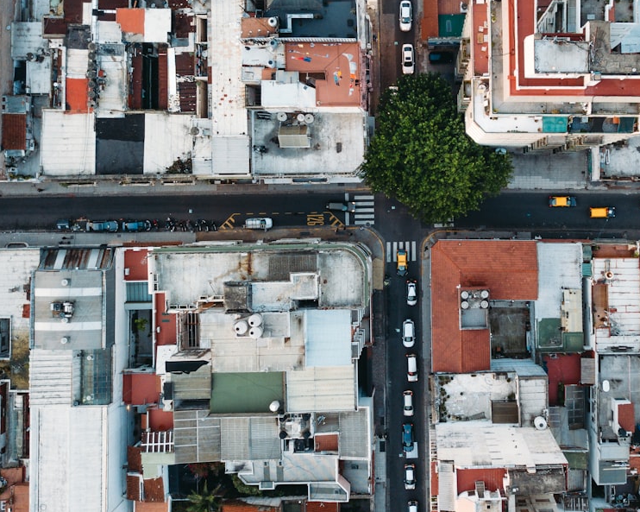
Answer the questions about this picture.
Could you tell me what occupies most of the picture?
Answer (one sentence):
The bulk of the photo consists of buildings.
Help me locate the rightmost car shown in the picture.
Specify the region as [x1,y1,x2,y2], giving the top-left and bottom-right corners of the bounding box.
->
[588,205,615,218]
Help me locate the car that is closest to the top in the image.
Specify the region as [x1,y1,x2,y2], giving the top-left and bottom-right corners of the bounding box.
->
[399,2,412,31]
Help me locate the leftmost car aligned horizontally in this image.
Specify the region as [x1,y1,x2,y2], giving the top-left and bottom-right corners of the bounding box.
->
[88,220,118,232]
